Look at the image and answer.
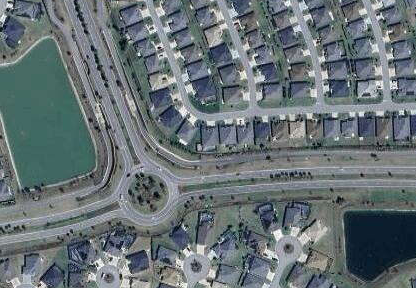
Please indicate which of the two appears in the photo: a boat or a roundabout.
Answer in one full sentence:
Looking from above, you can make out a roundabout.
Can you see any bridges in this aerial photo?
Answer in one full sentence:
No, no bridge is visible in the scene.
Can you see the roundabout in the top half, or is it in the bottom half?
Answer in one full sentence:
Seen from above, the roundabout lies in the bottom half of the view.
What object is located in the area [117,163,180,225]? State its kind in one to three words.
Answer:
roundabout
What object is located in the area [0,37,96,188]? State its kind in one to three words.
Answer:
pond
